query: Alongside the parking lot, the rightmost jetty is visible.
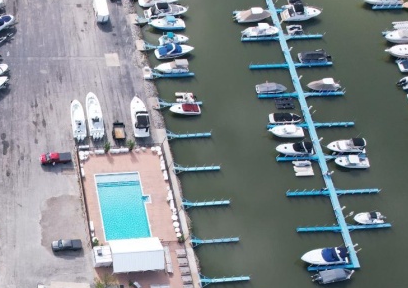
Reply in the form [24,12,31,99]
[270,0,363,269]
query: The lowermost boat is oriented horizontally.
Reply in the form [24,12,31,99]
[313,270,352,286]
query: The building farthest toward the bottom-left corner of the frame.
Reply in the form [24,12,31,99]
[88,244,112,272]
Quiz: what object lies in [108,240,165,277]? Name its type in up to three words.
building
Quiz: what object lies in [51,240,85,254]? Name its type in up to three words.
vehicle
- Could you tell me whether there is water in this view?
Yes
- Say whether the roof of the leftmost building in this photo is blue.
No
